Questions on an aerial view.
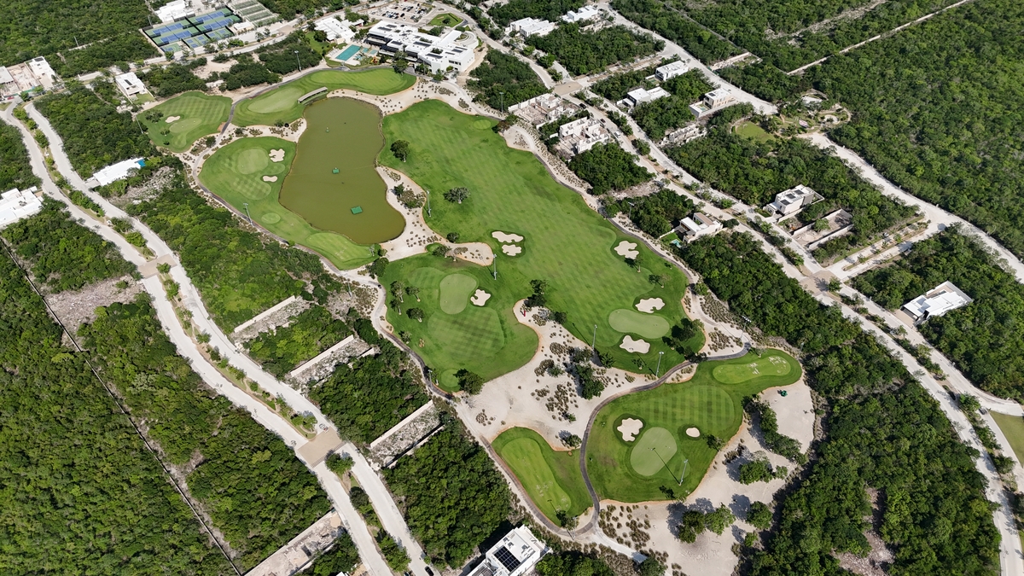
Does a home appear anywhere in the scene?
Yes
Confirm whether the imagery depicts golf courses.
Yes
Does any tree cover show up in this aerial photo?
Yes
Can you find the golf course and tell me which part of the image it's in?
center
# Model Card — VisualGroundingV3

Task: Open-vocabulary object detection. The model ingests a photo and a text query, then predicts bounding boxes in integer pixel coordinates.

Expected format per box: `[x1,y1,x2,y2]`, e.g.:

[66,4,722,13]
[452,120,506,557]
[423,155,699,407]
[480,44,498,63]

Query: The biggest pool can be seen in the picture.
[335,44,362,60]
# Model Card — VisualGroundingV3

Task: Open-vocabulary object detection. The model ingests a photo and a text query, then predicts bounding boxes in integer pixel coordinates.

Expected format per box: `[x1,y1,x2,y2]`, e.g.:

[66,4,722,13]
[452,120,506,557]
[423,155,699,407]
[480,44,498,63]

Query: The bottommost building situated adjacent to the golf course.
[468,524,548,576]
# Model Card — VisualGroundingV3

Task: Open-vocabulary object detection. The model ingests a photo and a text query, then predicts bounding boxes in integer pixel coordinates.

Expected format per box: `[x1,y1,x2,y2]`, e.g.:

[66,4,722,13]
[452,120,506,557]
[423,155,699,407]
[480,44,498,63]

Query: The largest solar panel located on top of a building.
[494,545,519,571]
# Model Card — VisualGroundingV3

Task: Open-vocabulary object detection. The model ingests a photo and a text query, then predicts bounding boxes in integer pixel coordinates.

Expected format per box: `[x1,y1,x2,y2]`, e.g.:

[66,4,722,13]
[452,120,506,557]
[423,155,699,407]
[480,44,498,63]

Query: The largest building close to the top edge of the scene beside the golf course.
[365,20,479,71]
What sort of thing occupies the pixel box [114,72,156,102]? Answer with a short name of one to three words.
house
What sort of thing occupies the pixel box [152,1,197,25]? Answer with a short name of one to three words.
building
